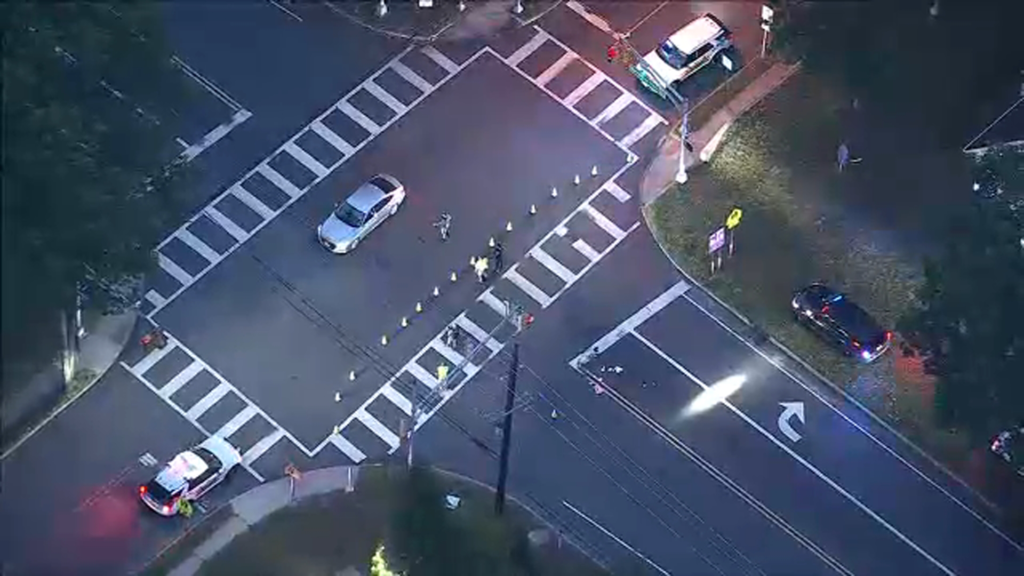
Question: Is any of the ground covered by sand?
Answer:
No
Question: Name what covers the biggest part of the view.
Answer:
paved ground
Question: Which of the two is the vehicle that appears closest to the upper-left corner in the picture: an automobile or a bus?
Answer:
automobile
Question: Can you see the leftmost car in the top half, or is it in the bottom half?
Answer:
bottom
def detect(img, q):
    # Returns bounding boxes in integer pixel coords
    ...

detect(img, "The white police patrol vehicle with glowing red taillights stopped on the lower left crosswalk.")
[141,437,247,519]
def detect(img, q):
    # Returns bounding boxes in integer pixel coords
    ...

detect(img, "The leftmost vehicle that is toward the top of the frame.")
[318,172,404,253]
